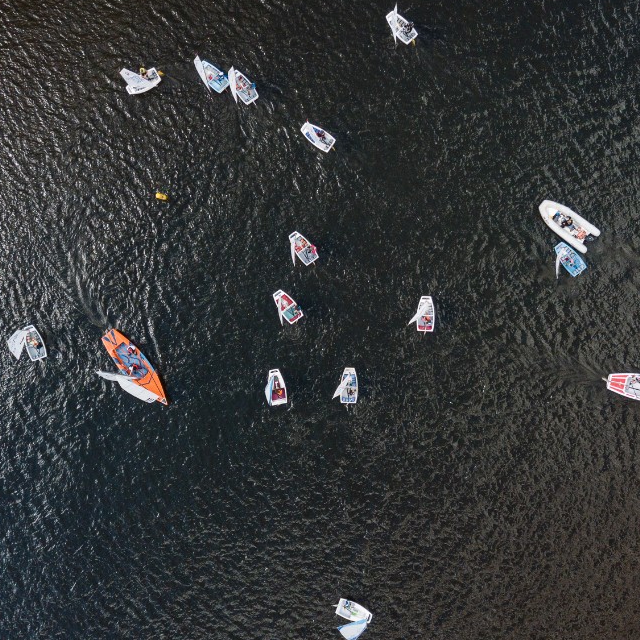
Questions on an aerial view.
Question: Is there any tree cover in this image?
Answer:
No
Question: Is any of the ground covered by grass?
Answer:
No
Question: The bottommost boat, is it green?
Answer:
No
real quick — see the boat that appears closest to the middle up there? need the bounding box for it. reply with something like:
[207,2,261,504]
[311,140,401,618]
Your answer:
[273,289,304,324]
